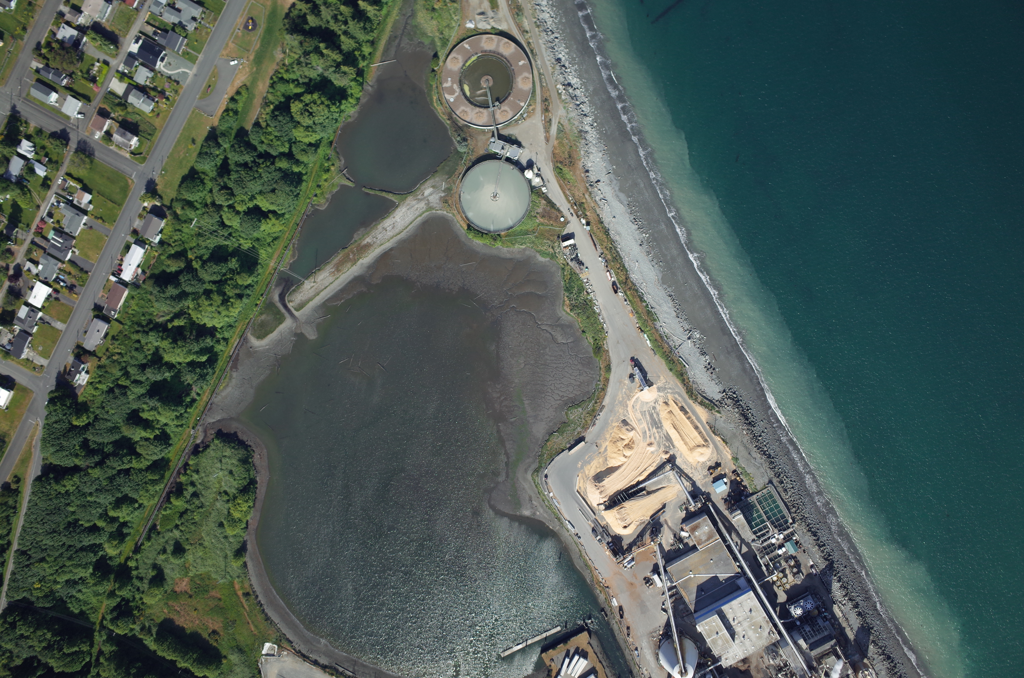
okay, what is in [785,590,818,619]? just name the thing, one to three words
cooling tower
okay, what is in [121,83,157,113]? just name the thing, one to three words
house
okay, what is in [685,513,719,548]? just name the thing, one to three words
building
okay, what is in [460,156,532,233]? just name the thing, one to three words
storage tank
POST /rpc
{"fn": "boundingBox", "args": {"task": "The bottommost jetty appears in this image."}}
[501,626,561,658]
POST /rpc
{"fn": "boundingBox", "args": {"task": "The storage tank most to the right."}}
[842,647,873,678]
